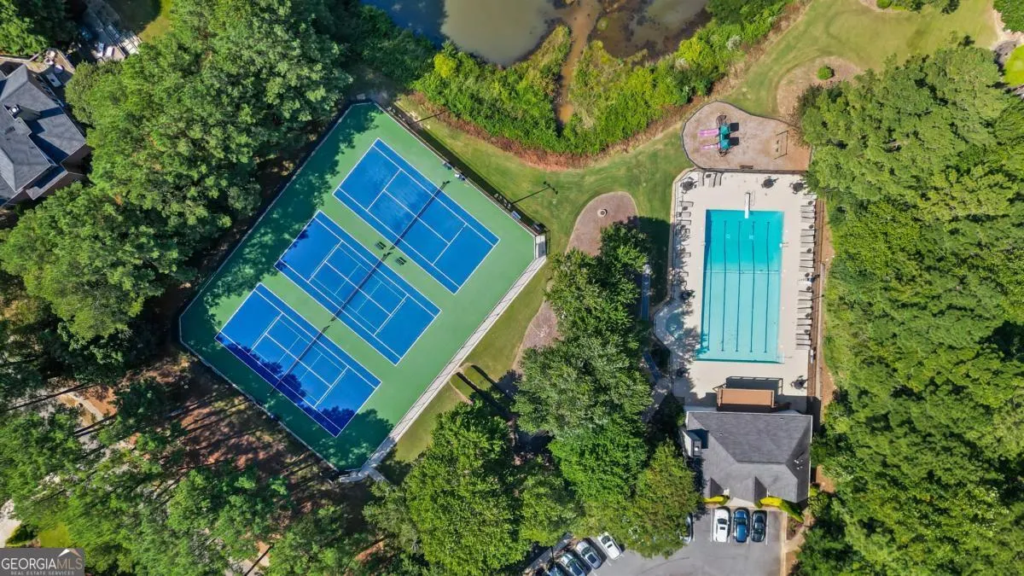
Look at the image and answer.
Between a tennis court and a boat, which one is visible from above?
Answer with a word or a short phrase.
tennis court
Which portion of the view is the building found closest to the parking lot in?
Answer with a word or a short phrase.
bottom right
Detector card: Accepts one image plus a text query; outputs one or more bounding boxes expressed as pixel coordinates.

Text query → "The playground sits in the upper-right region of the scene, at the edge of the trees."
[682,99,809,170]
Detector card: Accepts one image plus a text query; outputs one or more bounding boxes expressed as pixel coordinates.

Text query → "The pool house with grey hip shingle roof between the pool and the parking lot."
[676,409,813,503]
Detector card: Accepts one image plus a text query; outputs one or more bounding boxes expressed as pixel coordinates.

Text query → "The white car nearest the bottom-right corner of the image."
[714,510,731,543]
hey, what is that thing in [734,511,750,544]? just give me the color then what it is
blue car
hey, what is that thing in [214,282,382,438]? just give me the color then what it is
blue tennis court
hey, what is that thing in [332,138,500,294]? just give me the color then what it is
blue tennis court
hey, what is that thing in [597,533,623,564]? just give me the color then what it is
white car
